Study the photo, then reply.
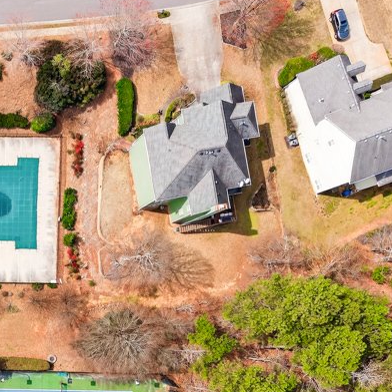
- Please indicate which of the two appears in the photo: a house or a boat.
house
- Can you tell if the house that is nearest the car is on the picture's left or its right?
right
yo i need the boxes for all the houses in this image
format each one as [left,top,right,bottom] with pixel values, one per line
[131,84,260,234]
[284,54,392,194]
